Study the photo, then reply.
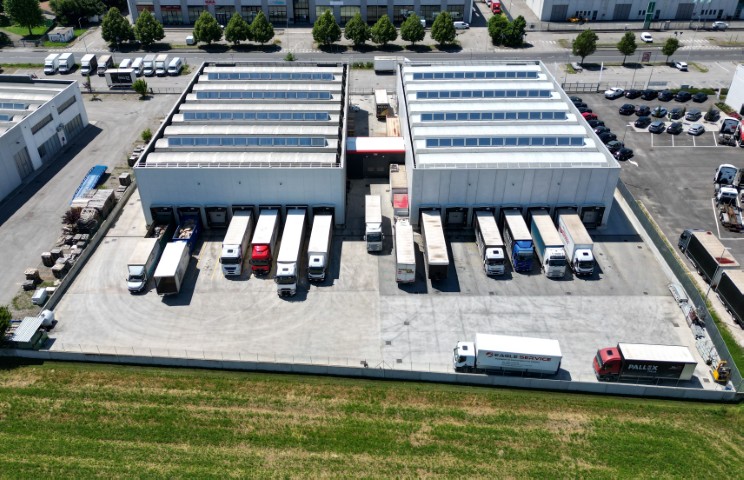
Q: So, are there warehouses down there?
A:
Yes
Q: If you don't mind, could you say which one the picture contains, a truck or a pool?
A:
truck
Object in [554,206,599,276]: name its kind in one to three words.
truck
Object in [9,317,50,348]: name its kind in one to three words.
shed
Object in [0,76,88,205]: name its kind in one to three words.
building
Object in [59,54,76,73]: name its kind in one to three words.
vehicle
